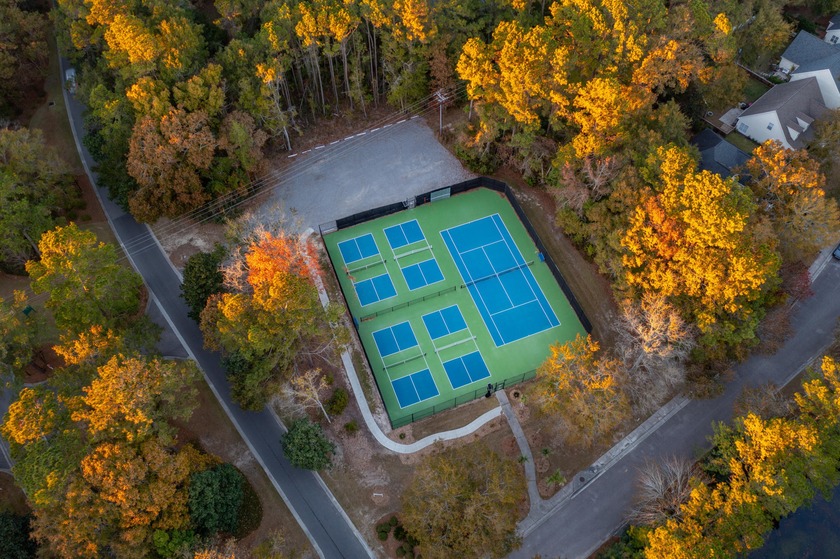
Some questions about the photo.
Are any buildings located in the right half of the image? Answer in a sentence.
Yes, in the right half of the image there is a building.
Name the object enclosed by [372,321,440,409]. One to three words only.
sports court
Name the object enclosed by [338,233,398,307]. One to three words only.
sports court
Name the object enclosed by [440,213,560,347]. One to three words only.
tennis court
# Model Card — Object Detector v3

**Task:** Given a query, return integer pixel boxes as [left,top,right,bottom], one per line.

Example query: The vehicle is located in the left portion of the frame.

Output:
[63,70,78,89]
